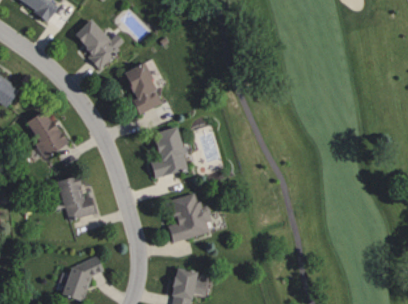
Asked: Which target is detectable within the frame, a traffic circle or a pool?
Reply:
pool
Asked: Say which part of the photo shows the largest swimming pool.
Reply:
center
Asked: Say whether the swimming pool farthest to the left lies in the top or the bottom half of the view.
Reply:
top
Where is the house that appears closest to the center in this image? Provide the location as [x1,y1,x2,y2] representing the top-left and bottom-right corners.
[150,127,190,178]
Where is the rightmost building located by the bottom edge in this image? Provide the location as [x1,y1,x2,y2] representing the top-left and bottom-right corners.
[172,268,207,304]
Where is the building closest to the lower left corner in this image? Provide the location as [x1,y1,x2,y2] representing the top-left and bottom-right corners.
[64,258,104,301]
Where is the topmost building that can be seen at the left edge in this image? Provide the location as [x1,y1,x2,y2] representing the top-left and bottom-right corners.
[16,0,59,23]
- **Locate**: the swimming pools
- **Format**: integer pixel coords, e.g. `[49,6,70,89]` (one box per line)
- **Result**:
[115,9,150,42]
[191,125,223,176]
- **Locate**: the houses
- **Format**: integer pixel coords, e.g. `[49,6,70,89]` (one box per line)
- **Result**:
[0,82,16,109]
[172,268,207,304]
[58,177,97,220]
[125,64,168,114]
[168,194,212,243]
[76,20,126,70]
[28,113,68,161]
[16,0,59,23]
[150,127,190,178]
[64,258,104,301]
